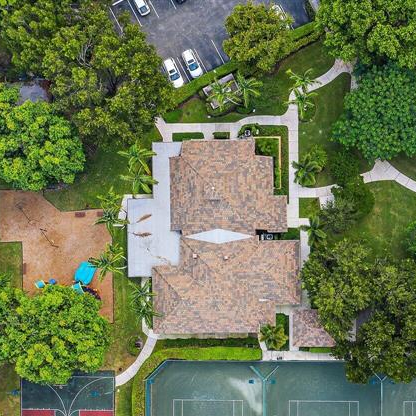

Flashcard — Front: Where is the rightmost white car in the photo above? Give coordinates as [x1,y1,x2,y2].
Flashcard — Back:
[181,45,204,78]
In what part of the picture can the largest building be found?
center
